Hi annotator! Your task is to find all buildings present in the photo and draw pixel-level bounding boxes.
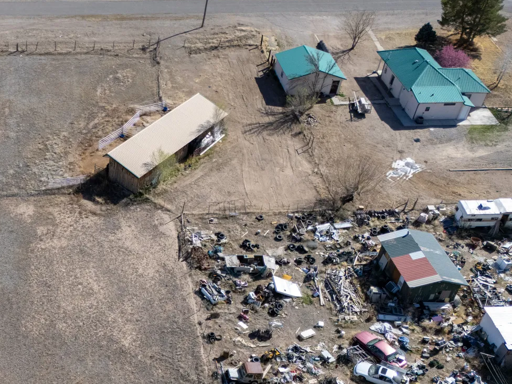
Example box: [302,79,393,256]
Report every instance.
[479,304,512,357]
[375,229,468,305]
[378,47,491,121]
[105,98,230,193]
[270,41,346,97]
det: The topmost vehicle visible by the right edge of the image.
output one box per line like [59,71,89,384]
[449,198,512,235]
